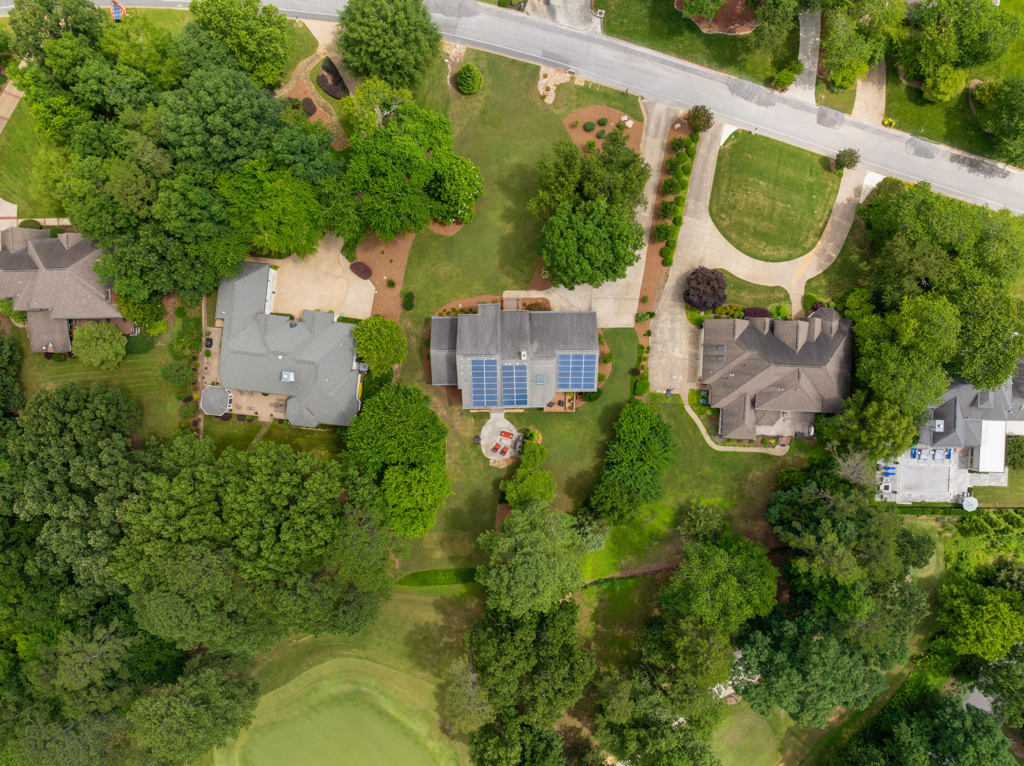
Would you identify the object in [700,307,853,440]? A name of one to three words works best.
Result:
house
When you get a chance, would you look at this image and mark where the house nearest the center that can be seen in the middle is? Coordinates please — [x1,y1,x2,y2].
[430,303,599,410]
